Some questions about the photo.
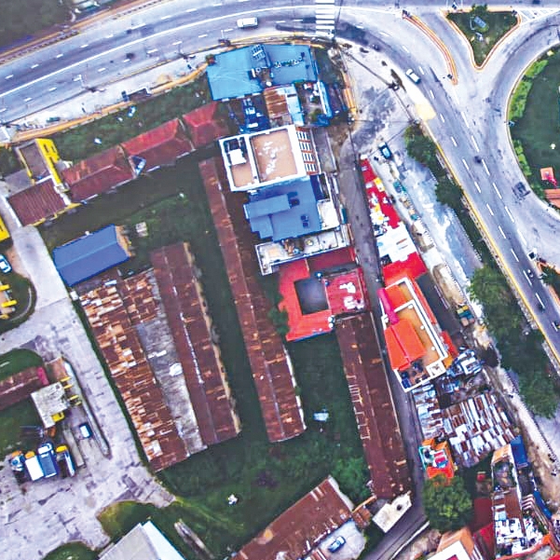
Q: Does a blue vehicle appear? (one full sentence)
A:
Yes, looking at the shot, I can spot a blue vehicle.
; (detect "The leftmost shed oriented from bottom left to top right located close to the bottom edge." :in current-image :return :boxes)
[231,475,355,560]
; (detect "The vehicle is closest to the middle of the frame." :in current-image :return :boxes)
[378,140,395,161]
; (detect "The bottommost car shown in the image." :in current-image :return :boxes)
[327,534,345,552]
